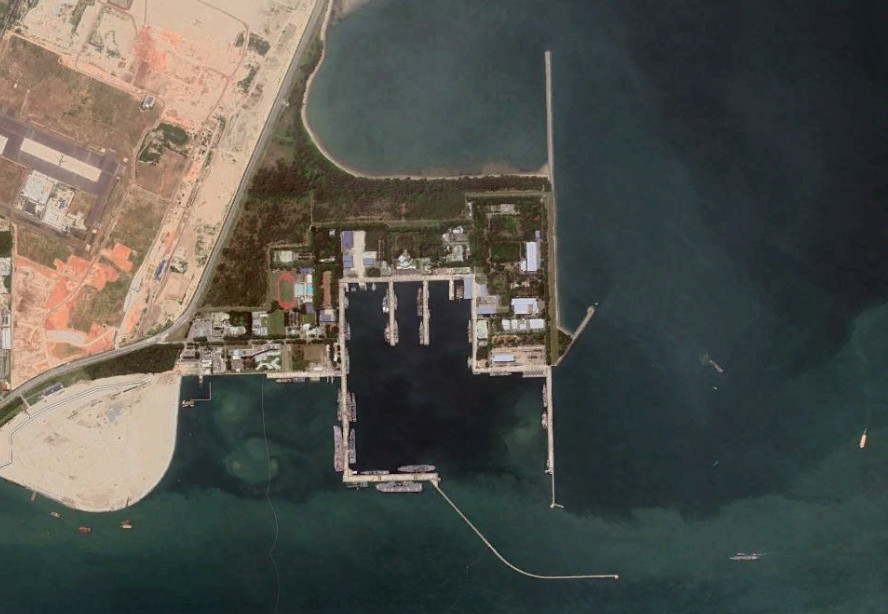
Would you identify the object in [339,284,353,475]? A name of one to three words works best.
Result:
pier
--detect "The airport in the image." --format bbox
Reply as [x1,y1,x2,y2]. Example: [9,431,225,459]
[0,113,118,229]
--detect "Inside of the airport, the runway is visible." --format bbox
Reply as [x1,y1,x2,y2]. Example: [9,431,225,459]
[0,113,117,193]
